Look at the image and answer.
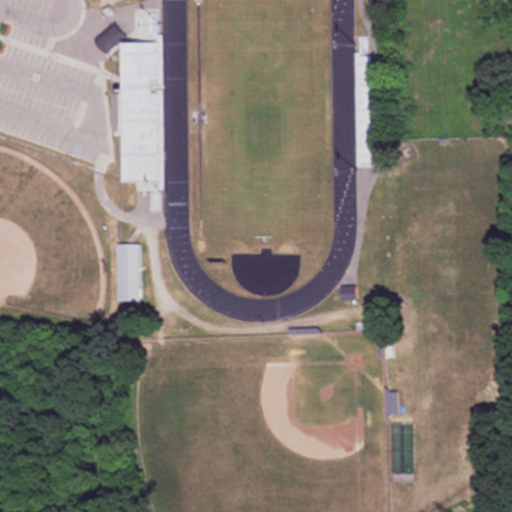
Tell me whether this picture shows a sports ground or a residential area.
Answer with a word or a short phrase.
sports ground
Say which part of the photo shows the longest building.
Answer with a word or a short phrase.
left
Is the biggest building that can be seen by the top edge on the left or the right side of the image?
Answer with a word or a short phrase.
left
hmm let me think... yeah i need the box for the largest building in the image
[116,244,141,303]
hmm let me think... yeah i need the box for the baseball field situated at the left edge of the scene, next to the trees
[0,145,106,324]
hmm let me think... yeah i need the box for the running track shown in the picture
[164,0,356,322]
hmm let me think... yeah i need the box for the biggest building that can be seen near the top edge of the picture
[94,22,127,52]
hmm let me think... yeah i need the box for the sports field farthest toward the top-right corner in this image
[188,0,332,298]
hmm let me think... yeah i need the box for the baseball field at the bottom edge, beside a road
[138,330,390,512]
